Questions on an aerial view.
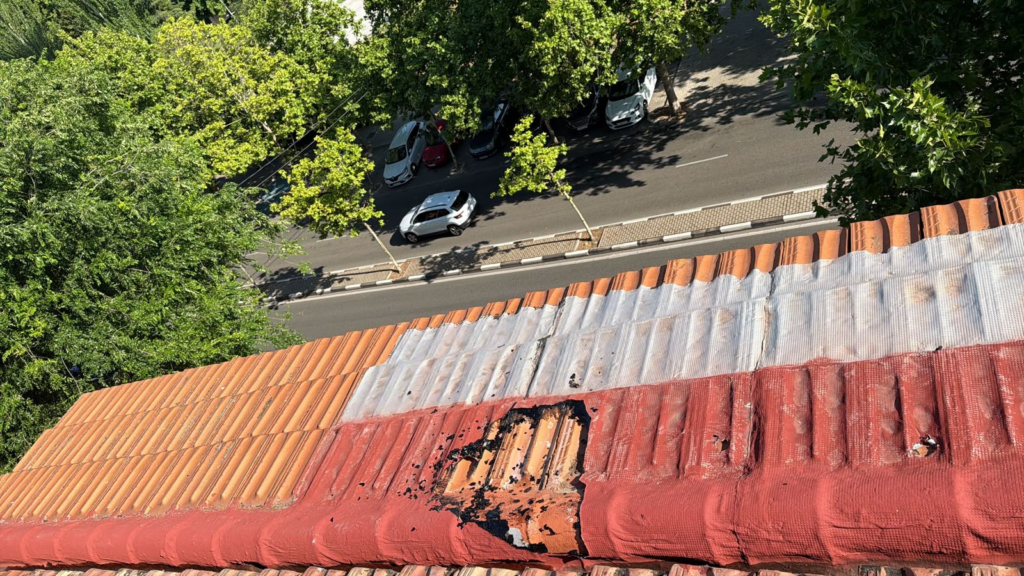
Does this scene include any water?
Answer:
No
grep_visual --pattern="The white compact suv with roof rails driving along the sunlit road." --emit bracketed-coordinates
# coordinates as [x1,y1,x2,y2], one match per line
[396,189,478,245]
